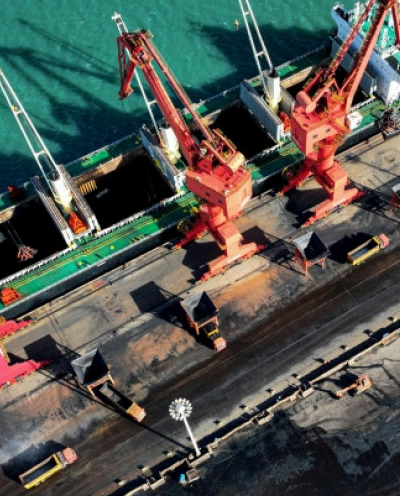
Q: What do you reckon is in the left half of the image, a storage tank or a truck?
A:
truck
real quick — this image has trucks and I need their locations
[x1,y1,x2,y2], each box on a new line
[97,378,152,426]
[18,445,81,490]
[180,468,201,490]
[198,317,228,356]
[345,233,390,268]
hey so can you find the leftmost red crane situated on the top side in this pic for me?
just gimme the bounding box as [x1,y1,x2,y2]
[117,22,270,283]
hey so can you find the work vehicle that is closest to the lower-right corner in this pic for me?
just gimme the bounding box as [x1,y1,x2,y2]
[338,371,375,401]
